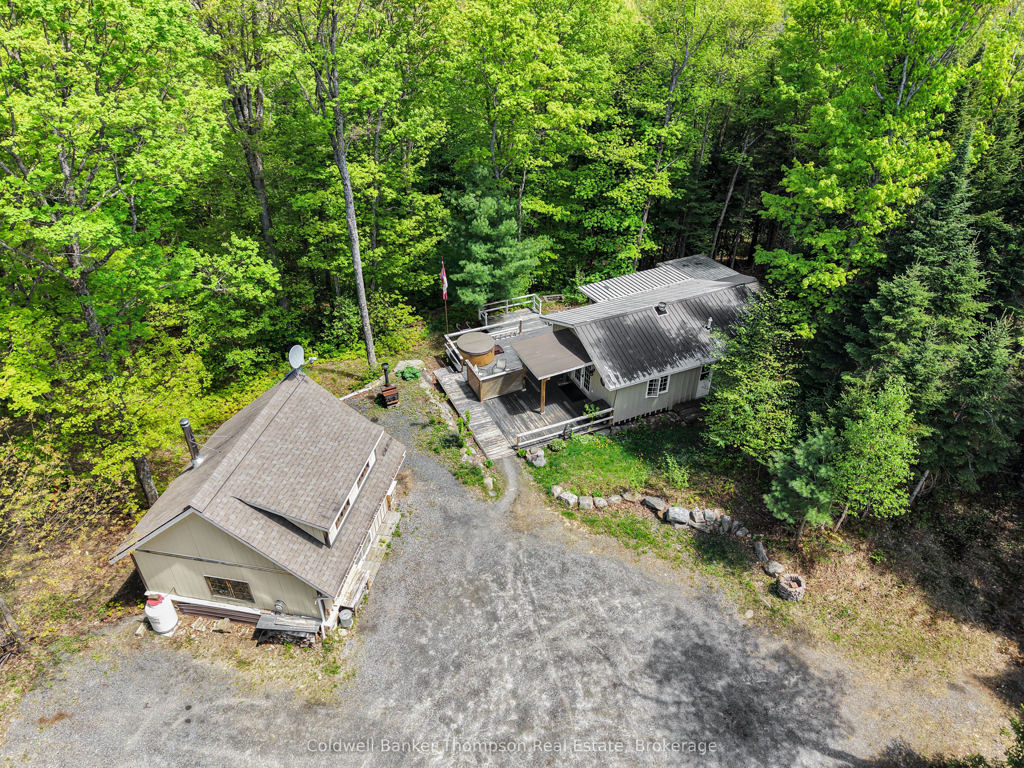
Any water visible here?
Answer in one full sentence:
No, there is no water in the image.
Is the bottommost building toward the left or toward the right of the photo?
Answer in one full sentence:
The bottommost building sits on the left side.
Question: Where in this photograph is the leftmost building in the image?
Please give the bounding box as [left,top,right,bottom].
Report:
[108,372,408,645]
